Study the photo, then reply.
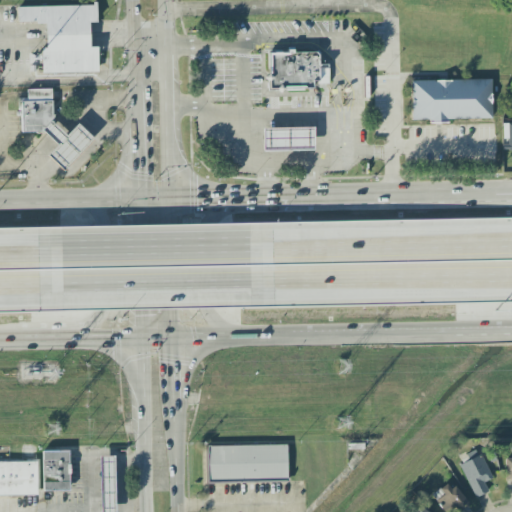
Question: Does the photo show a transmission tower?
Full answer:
Yes, this view includes a transmission tower.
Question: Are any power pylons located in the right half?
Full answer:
Yes, a power pylon is visible in the right half.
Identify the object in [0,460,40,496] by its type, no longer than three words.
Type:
building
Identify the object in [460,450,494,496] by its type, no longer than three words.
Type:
house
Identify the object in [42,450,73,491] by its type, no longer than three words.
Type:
building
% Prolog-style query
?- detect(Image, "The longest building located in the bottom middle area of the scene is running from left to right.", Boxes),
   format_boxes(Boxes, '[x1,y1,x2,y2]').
[210,444,290,484]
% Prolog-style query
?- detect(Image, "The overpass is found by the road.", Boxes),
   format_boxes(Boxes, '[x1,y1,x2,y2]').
[0,217,512,310]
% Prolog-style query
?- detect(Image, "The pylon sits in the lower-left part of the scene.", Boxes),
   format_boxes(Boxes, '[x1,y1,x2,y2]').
[46,420,62,439]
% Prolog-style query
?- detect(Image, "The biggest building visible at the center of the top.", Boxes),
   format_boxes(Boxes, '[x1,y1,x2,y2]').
[269,48,331,91]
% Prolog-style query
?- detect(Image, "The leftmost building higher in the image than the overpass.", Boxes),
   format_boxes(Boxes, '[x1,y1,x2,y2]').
[18,88,56,132]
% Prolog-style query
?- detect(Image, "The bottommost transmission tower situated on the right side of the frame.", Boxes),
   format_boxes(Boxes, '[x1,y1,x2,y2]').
[337,416,355,436]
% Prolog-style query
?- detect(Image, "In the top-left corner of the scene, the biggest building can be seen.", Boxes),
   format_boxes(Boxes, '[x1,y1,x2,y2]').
[17,2,100,74]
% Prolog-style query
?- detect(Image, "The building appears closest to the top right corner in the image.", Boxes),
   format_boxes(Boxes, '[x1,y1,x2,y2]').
[412,79,494,124]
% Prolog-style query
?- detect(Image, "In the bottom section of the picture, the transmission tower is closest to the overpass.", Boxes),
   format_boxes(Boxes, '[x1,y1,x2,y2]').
[336,357,354,376]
